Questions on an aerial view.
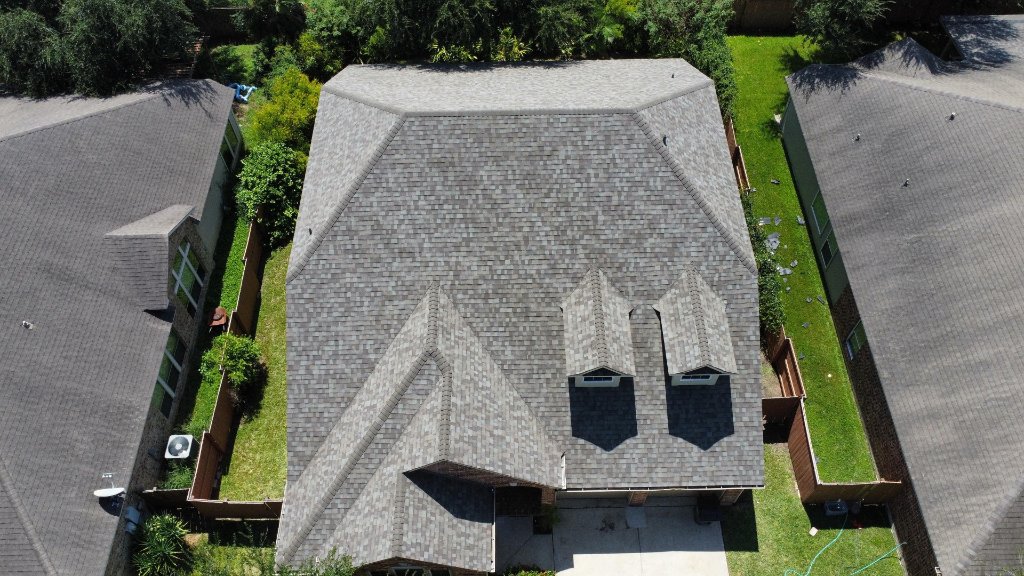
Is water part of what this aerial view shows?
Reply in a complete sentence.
No, no water is visible.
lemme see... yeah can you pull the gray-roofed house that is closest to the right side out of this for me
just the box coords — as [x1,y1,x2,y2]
[781,17,1024,576]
